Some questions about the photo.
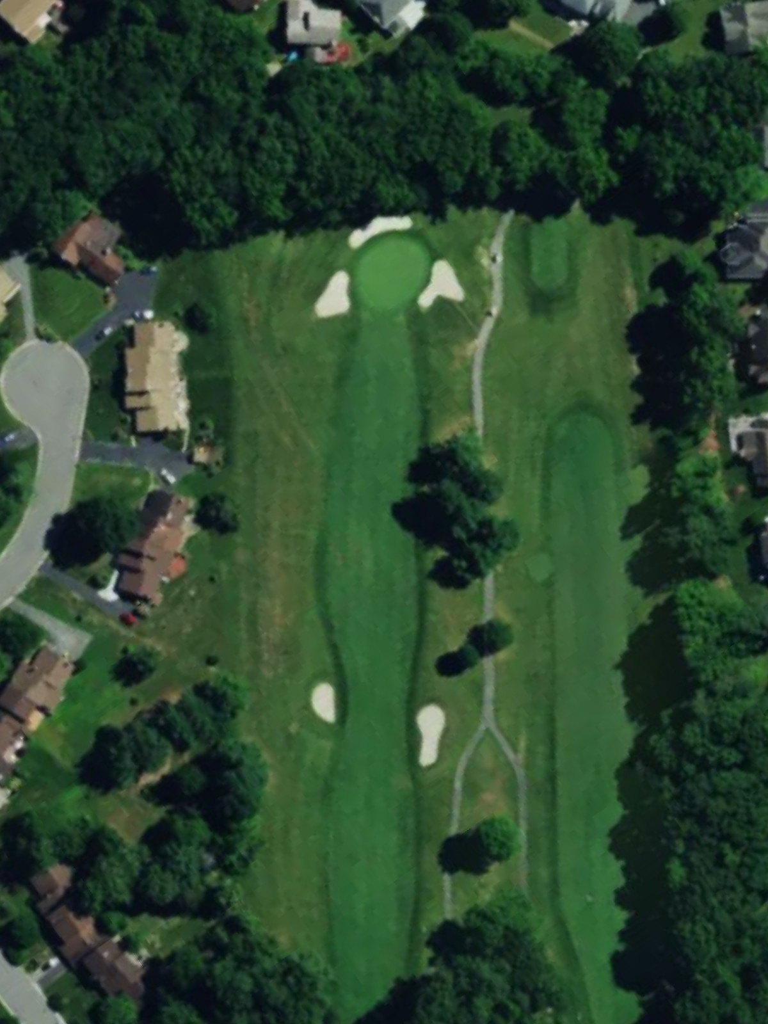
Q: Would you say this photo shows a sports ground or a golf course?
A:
golf course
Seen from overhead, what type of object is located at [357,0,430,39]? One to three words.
house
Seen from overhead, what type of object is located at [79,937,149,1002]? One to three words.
house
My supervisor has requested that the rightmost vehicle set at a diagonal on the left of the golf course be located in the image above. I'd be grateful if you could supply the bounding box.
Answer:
[160,468,175,484]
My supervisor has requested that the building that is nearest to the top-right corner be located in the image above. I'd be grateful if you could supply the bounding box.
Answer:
[719,2,768,55]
